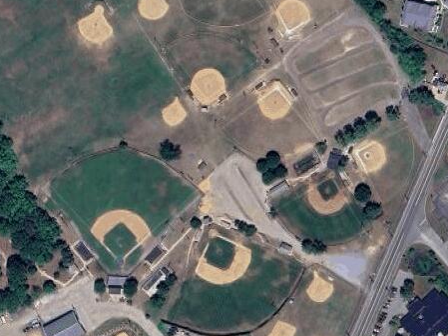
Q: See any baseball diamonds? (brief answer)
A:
Yes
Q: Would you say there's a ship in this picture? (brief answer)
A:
No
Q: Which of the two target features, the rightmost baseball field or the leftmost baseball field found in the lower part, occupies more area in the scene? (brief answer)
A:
the leftmost baseball field found in the lower part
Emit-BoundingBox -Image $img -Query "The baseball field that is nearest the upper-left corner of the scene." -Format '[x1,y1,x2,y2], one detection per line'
[76,1,114,44]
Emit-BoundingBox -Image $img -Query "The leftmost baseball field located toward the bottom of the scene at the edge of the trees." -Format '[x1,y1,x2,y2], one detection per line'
[52,149,198,273]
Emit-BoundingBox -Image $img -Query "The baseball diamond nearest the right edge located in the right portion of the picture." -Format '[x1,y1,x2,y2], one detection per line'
[350,139,388,176]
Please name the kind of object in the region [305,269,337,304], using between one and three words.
baseball field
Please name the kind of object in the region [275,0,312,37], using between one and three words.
baseball field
